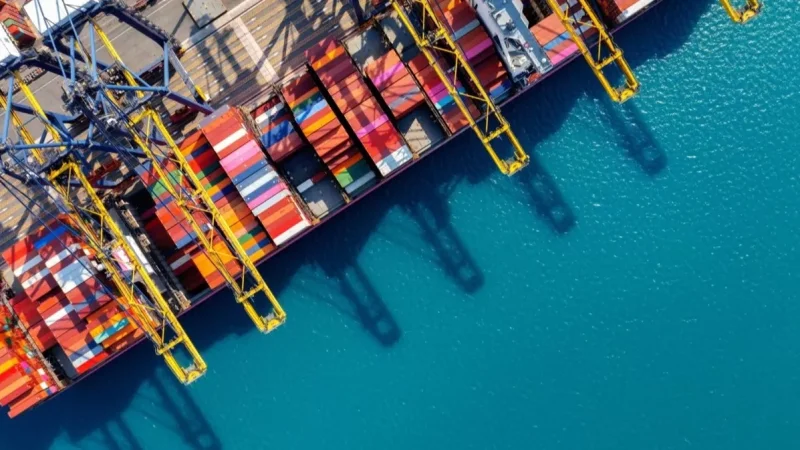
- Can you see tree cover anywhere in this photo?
No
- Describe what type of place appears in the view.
port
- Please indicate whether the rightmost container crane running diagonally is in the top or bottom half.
top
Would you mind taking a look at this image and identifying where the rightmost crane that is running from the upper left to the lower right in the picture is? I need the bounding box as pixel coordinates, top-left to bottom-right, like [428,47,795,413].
[545,0,643,106]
